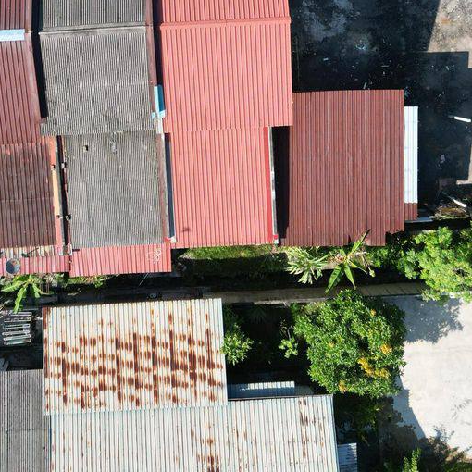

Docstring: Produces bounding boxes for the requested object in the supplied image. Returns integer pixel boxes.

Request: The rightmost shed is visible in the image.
[282,89,419,249]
